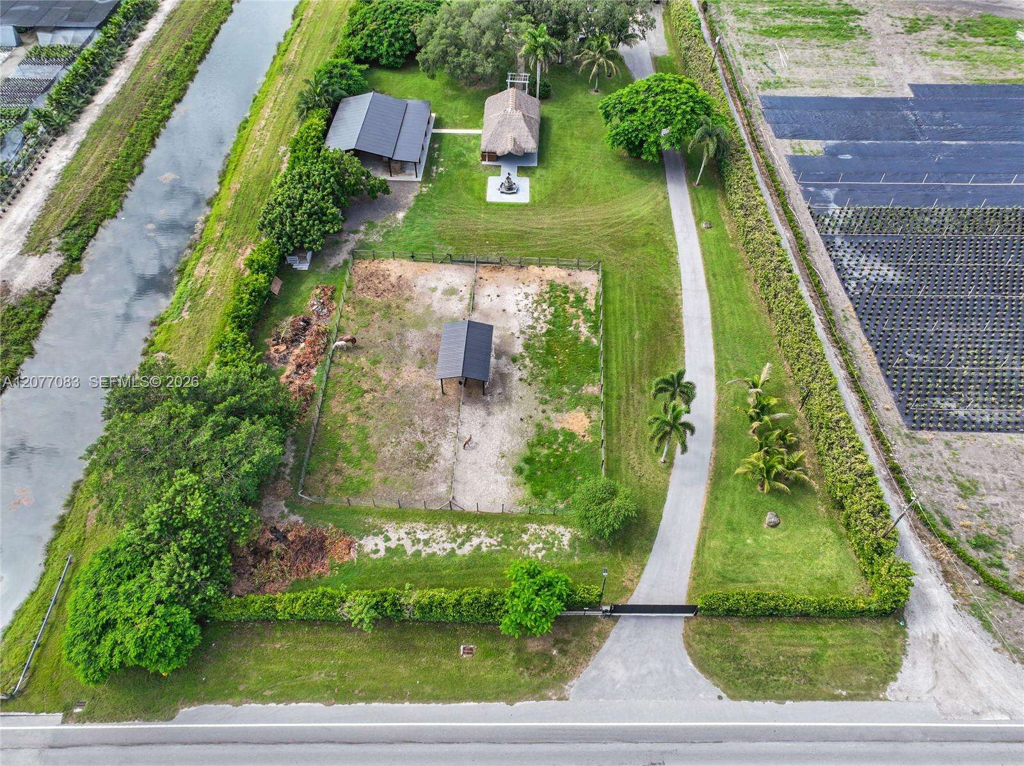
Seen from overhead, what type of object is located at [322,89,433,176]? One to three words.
barn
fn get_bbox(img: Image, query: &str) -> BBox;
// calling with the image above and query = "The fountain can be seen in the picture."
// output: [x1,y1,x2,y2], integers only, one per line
[498,170,519,195]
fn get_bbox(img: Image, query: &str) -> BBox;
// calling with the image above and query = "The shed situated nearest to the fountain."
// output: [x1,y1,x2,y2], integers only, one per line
[479,86,543,163]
